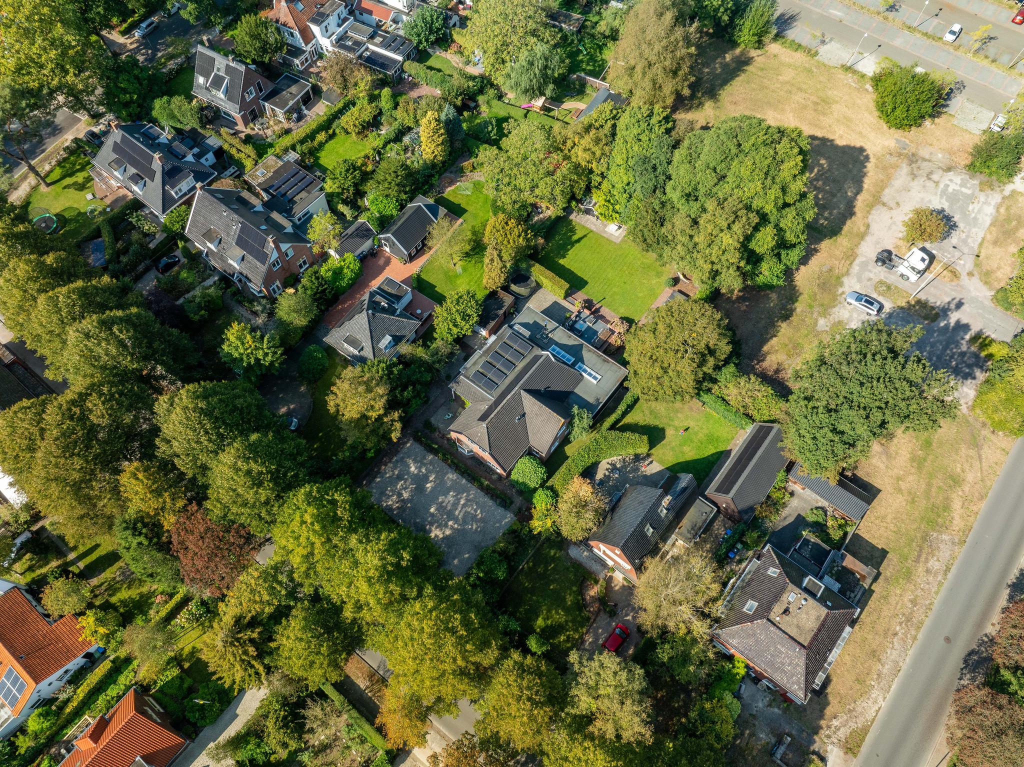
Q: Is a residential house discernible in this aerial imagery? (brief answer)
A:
Yes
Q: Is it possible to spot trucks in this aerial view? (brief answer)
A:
Yes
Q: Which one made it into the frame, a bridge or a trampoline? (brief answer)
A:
trampoline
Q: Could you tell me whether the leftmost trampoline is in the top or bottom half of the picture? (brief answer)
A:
top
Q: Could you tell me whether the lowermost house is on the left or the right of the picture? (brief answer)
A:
left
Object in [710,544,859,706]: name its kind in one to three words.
house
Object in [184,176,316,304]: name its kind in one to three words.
house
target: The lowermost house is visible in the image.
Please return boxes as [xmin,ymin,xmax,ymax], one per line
[55,687,193,767]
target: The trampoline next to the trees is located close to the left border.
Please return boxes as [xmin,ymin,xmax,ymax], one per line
[24,204,60,234]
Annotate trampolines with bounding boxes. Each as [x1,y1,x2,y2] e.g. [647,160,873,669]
[24,204,60,234]
[508,269,538,302]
